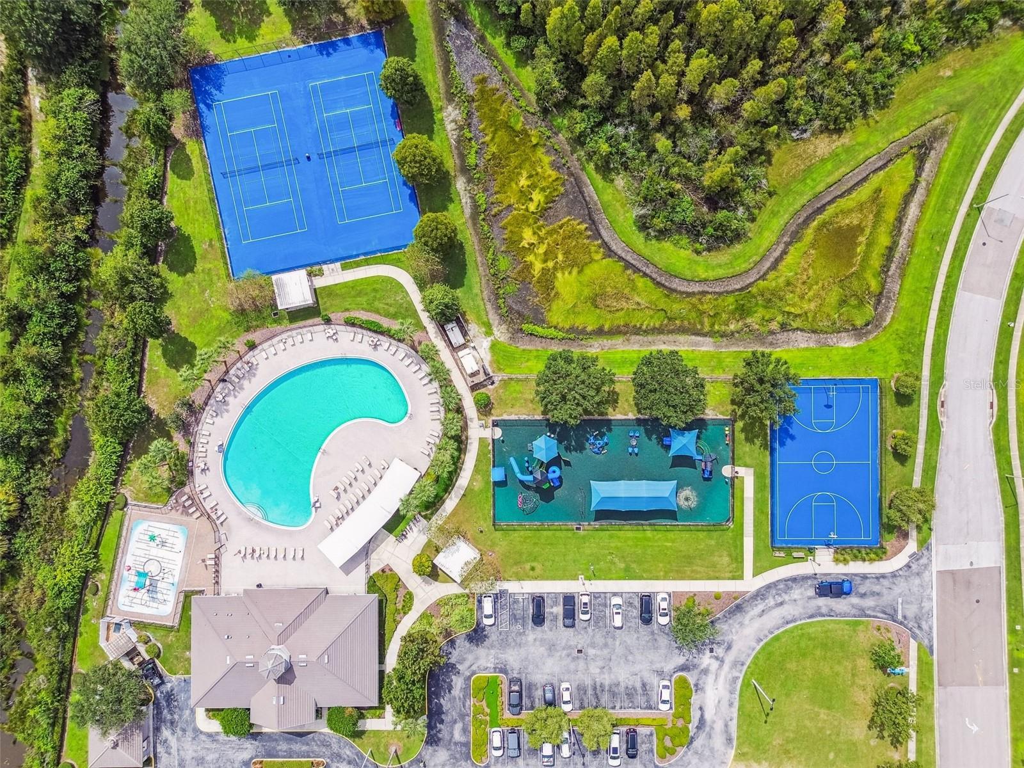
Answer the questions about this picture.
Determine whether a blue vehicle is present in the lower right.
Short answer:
Yes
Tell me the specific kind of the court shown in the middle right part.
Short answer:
basketball court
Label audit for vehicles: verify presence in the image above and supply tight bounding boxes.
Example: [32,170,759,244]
[625,728,639,757]
[658,680,672,709]
[814,580,850,596]
[482,594,496,625]
[141,656,168,689]
[639,594,654,624]
[508,677,522,714]
[542,683,556,710]
[610,597,624,628]
[531,595,545,626]
[560,682,573,711]
[507,727,521,758]
[490,728,504,756]
[657,592,671,623]
[578,592,592,620]
[559,729,573,757]
[541,745,555,764]
[608,731,622,764]
[562,593,576,627]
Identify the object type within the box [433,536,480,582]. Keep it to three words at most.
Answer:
building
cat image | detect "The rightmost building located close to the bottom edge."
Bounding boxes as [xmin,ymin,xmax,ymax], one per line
[191,586,379,730]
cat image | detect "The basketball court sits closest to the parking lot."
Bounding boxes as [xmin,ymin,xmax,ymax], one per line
[770,378,881,547]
